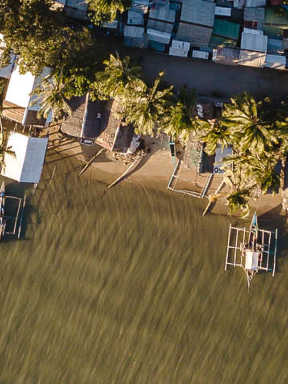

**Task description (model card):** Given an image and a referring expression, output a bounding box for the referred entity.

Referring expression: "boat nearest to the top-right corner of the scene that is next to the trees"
[168,134,212,197]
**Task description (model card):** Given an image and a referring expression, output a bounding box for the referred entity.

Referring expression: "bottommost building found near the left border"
[1,129,48,183]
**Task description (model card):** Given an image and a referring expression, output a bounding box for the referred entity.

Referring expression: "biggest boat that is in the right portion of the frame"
[225,209,277,291]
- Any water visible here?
Yes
